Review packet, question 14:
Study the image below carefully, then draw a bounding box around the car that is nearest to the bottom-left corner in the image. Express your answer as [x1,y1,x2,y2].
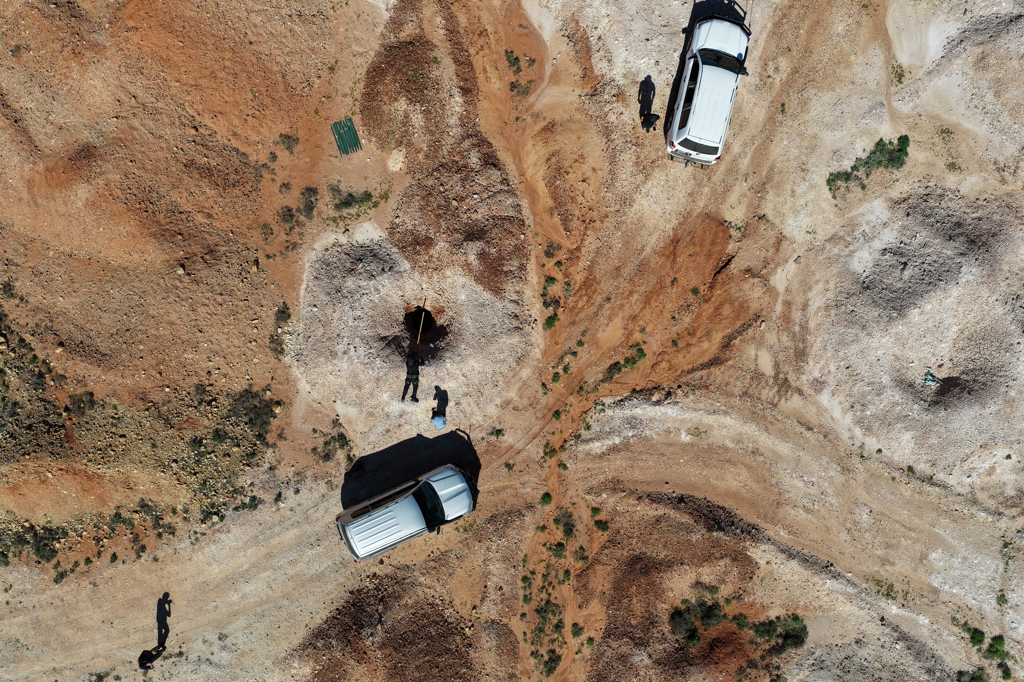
[332,459,480,563]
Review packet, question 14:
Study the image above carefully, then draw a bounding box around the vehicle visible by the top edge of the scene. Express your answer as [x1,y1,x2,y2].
[667,8,766,174]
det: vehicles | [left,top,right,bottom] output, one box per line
[332,459,480,563]
[667,8,766,174]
